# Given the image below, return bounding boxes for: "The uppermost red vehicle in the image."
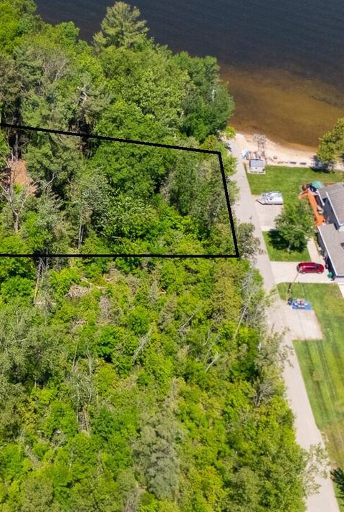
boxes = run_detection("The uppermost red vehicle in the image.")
[297,261,327,274]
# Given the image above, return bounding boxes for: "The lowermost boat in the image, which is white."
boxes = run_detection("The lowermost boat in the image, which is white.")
[259,192,287,206]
